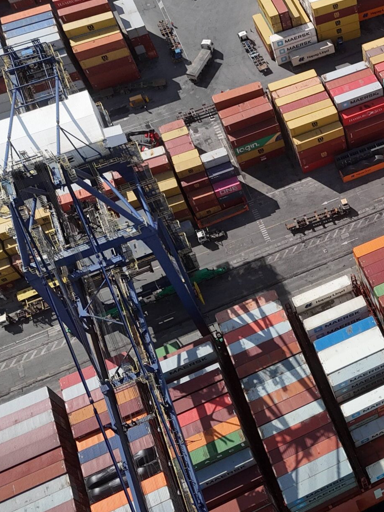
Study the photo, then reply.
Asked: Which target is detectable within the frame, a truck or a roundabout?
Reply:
truck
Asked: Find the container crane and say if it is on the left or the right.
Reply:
left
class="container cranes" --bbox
[0,19,227,512]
